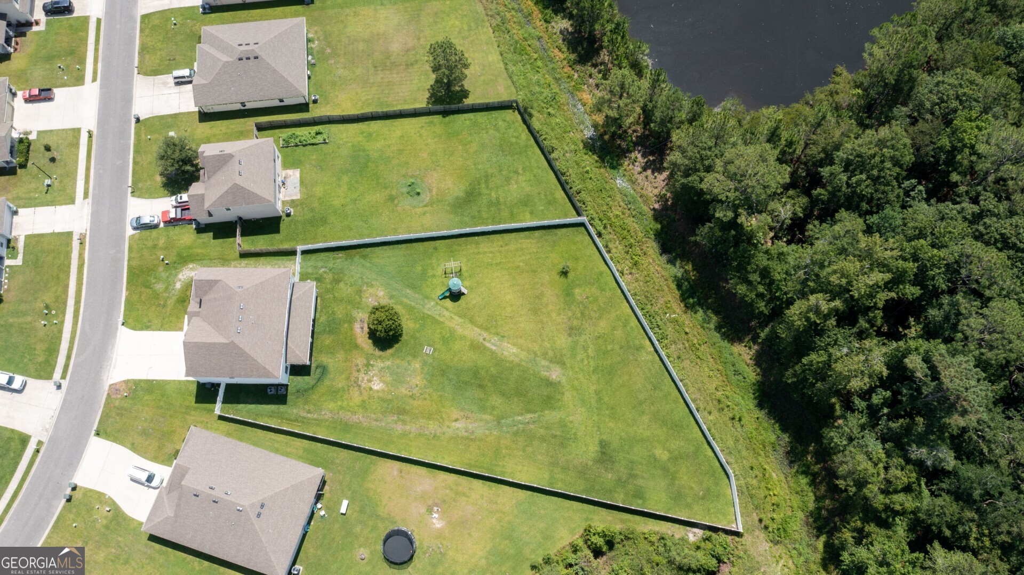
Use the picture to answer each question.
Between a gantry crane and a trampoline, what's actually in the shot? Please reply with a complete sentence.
The image shows a trampoline.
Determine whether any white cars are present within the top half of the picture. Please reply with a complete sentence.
Yes, a white car appears within the top half of the picture.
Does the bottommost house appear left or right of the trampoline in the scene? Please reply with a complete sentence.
To the left of the trampoline is where the bottommost house appears.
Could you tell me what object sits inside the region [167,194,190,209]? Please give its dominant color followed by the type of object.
white car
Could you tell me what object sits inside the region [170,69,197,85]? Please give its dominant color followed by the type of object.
white car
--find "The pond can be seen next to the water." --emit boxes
[623,0,934,120]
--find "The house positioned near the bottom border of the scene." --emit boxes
[142,426,327,575]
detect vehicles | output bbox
[126,466,164,488]
[129,216,161,230]
[43,0,74,16]
[20,87,57,103]
[160,207,197,223]
[167,194,190,209]
[0,374,29,391]
[170,69,197,85]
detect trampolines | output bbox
[382,529,417,565]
